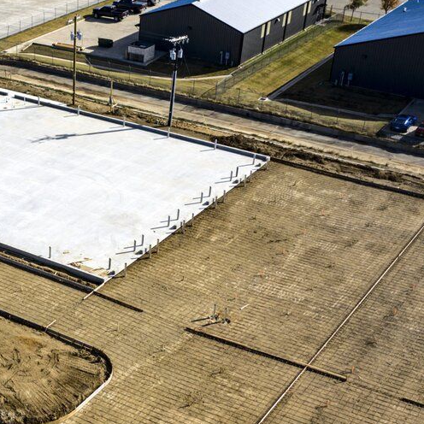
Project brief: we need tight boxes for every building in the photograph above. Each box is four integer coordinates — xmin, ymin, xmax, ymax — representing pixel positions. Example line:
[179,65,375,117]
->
[127,0,334,65]
[328,0,424,99]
